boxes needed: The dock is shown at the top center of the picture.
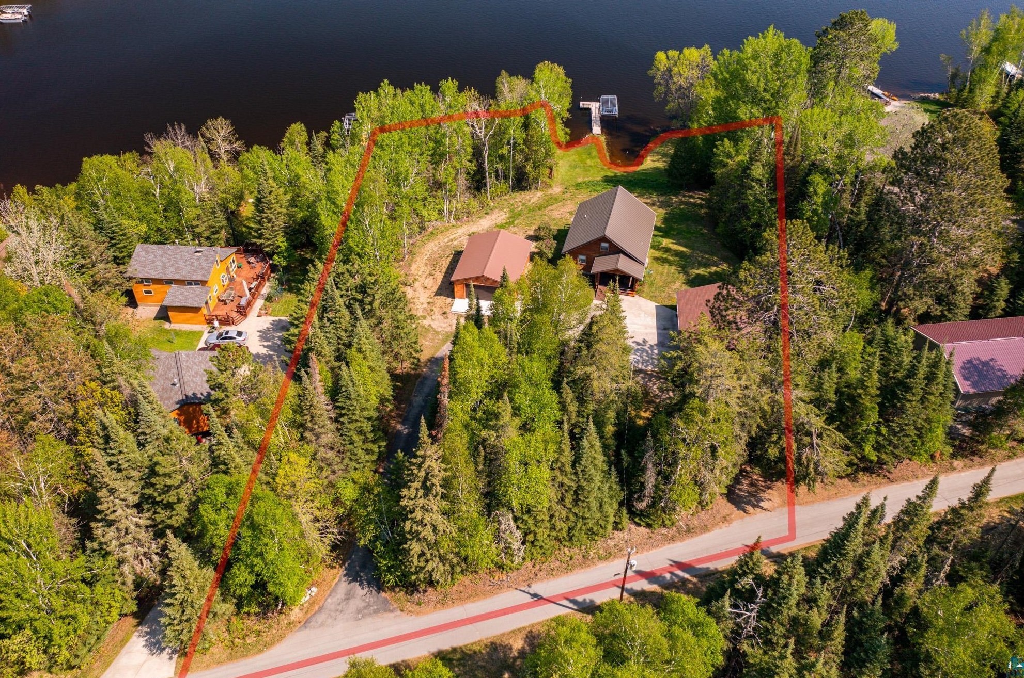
[578,95,603,136]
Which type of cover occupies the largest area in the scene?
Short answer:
trees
